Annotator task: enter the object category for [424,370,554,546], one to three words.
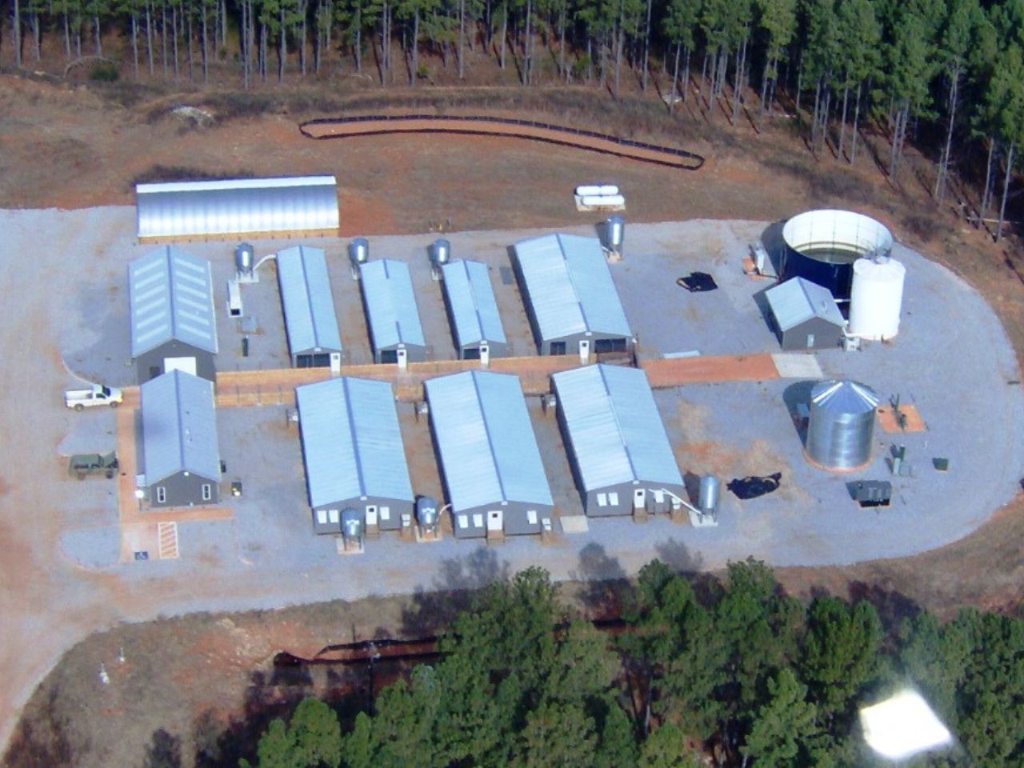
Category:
building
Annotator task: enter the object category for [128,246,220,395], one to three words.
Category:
building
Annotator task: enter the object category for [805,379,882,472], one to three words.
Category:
silo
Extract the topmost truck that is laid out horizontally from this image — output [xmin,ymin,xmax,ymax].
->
[63,386,123,412]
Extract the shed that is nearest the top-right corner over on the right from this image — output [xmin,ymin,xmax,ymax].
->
[765,277,848,349]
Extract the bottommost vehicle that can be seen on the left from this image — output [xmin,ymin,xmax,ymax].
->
[67,458,120,486]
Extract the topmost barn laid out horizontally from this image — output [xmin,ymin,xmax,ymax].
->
[137,180,339,243]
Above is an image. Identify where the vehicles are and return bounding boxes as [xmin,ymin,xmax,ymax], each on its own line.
[67,458,120,486]
[63,386,123,412]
